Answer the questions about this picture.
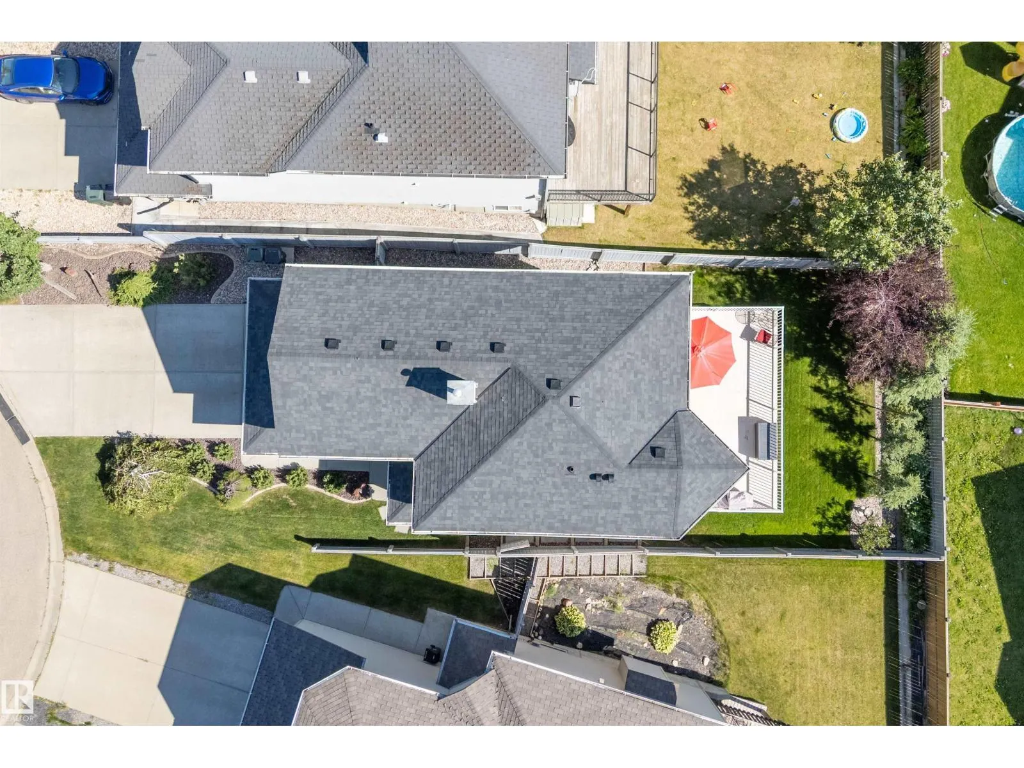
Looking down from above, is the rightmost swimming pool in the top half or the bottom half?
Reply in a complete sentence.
Seen from above, the rightmost swimming pool lies in the top half of the view.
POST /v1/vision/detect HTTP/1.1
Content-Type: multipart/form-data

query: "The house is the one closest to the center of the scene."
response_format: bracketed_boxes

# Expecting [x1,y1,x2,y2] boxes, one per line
[239,261,752,541]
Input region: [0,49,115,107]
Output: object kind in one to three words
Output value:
car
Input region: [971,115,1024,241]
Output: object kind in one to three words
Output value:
swimming pool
